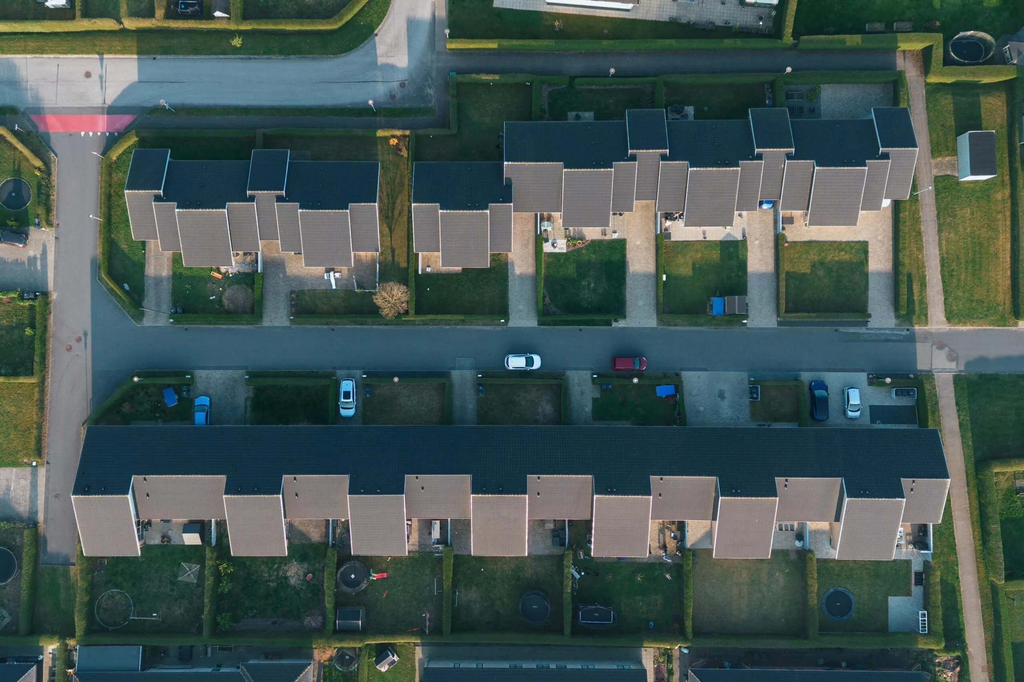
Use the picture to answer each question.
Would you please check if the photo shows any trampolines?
Yes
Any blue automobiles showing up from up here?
Yes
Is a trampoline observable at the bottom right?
Yes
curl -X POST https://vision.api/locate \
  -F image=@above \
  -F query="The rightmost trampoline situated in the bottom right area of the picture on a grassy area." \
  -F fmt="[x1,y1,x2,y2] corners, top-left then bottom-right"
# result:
[822,588,855,622]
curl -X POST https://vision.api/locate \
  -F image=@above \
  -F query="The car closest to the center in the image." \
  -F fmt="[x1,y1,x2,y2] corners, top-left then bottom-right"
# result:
[504,353,541,371]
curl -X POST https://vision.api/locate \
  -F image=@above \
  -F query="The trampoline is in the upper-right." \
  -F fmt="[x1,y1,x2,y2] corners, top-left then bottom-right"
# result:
[947,28,993,67]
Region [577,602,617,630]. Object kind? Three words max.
trampoline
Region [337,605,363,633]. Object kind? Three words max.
shed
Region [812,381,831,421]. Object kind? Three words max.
car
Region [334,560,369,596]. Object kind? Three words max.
trampoline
